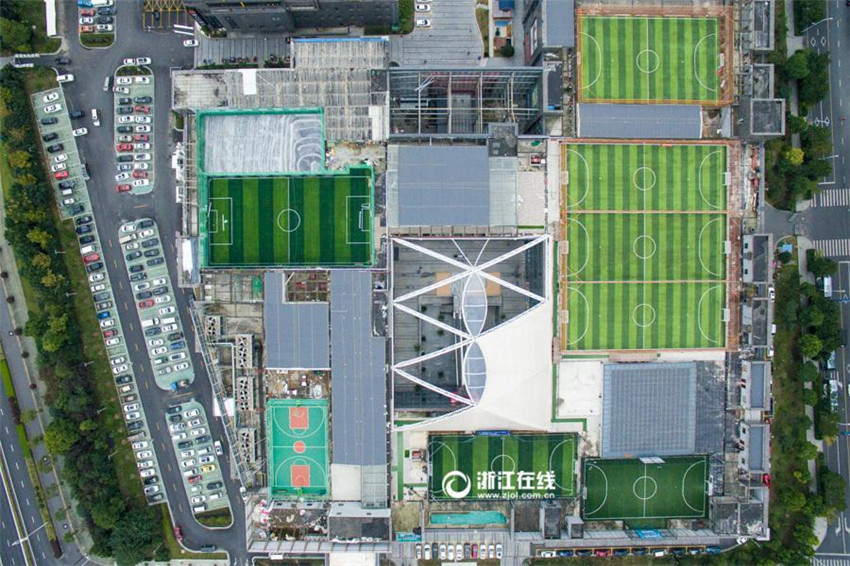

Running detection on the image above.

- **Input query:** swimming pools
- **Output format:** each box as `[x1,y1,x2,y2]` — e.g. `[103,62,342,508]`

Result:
[428,509,509,527]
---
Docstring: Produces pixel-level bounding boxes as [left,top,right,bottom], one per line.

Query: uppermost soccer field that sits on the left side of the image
[203,165,369,266]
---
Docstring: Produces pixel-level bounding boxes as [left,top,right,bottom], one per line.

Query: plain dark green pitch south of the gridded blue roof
[582,457,710,520]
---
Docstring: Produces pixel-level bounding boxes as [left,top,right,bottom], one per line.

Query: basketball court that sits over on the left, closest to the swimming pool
[271,403,328,490]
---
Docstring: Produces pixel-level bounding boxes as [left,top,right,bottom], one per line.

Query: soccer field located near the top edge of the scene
[580,17,719,101]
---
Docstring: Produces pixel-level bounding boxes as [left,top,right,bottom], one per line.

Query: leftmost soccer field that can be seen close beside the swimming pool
[429,434,577,500]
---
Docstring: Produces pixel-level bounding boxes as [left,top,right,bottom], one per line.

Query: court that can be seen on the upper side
[197,115,324,172]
